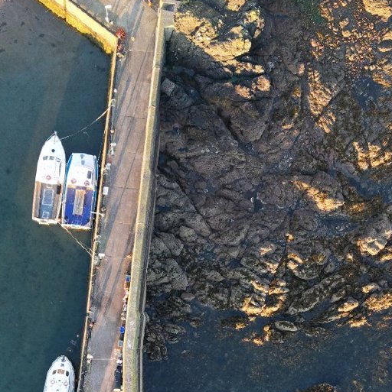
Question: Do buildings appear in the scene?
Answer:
No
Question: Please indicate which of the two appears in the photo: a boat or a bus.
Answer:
boat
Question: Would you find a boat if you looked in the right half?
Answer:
No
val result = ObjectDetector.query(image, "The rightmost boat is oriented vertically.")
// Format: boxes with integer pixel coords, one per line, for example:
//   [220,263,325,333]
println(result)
[61,152,96,229]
